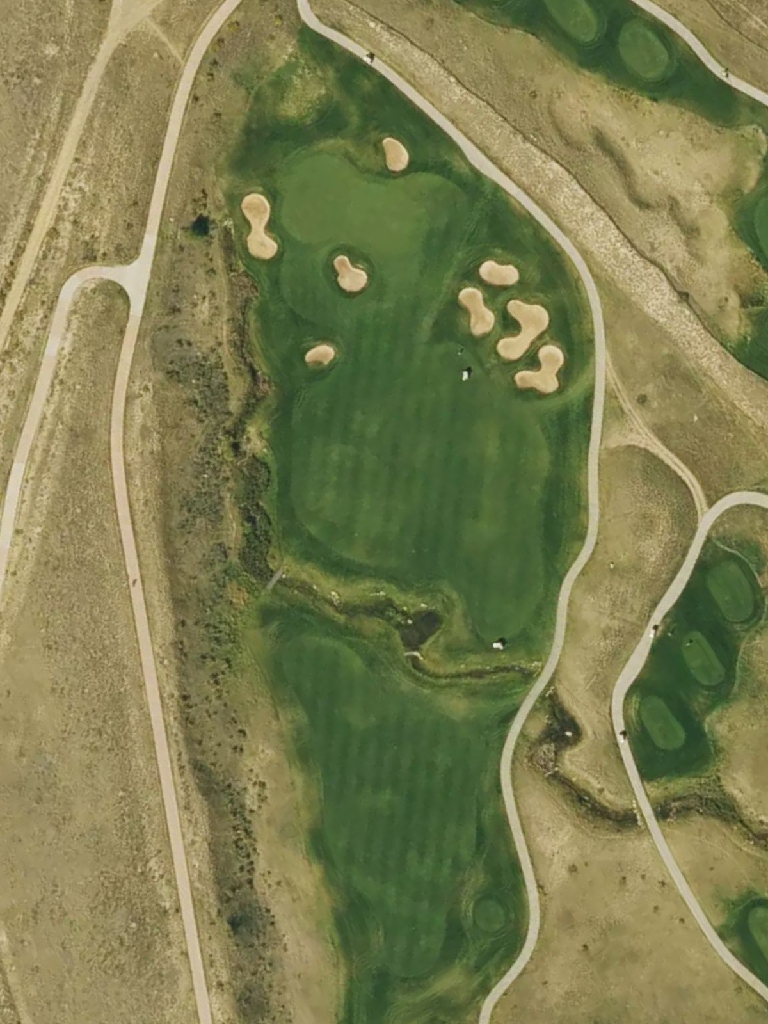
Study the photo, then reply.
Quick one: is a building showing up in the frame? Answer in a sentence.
No, no building is visible in the view.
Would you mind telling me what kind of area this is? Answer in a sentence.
The area seen from above is a golf course.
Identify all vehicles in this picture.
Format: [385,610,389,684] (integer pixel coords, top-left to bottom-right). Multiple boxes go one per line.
[363,56,373,66]
[493,643,504,649]
[648,628,655,639]
[462,370,469,381]
[618,733,625,744]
